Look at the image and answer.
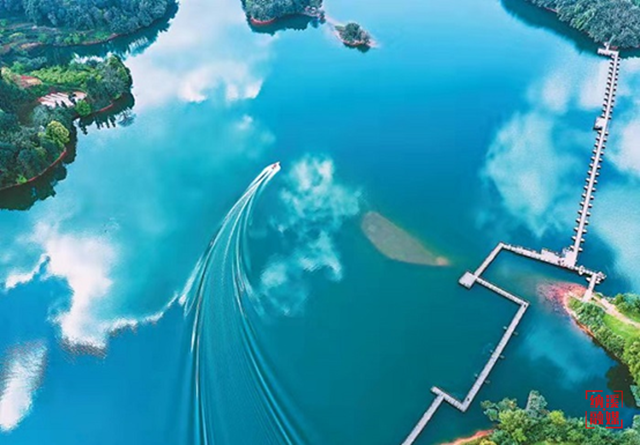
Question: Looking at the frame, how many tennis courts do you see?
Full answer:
Not a single tennis court can be seen.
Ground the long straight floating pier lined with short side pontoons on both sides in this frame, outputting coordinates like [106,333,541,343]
[568,44,621,263]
